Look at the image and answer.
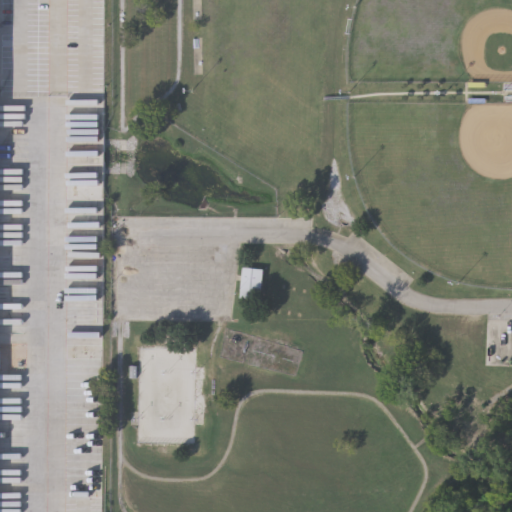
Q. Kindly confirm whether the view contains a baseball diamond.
Yes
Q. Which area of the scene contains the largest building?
center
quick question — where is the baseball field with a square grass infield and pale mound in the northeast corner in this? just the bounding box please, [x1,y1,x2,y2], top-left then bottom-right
[348,0,512,82]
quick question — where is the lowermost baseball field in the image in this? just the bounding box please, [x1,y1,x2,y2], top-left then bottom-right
[348,102,512,288]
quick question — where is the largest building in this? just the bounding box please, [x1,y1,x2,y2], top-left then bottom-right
[239,266,264,298]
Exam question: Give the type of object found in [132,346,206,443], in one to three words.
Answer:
sports court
